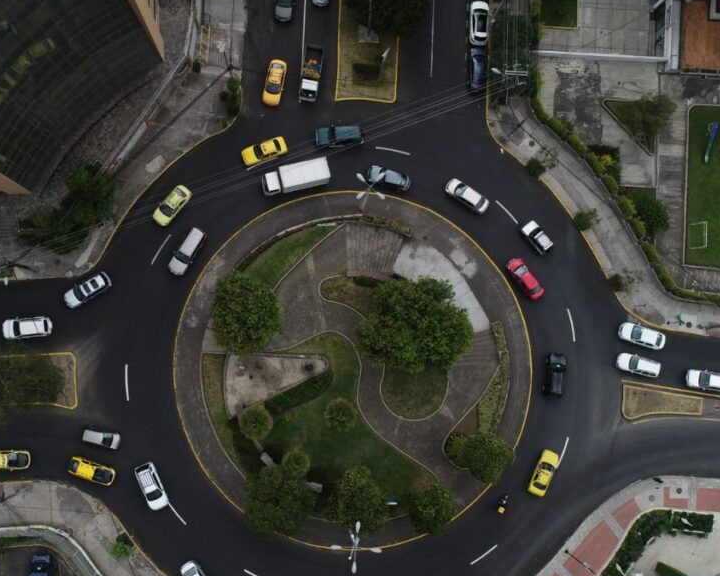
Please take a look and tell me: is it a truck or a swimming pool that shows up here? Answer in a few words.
truck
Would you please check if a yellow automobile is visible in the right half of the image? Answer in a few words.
Yes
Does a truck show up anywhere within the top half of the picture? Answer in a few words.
Yes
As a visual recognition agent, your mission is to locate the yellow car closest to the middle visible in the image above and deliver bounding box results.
[241,134,290,167]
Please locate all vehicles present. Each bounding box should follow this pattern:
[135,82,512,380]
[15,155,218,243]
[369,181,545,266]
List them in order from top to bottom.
[272,0,295,22]
[311,0,330,7]
[468,1,491,46]
[296,42,326,104]
[261,57,286,106]
[316,124,363,149]
[241,134,290,167]
[259,155,333,198]
[366,165,413,193]
[444,180,491,214]
[153,183,192,228]
[518,219,557,257]
[167,225,207,277]
[504,256,549,301]
[62,271,113,306]
[3,317,53,340]
[616,321,667,350]
[615,352,663,380]
[685,367,720,391]
[80,427,123,452]
[0,447,32,472]
[529,450,559,497]
[64,454,117,487]
[134,461,168,512]
[180,559,206,576]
